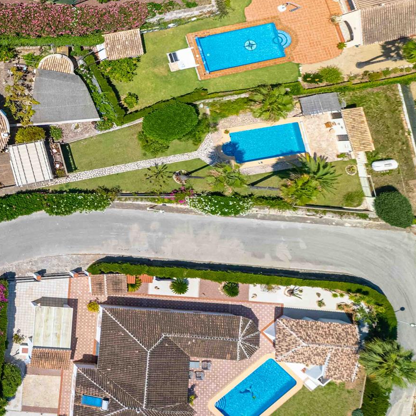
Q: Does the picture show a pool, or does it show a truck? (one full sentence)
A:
The image shows a pool.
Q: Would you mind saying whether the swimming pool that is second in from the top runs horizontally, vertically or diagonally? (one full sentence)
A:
The swimming pool that is second in from the top has been laid out horizontally relative to the frame.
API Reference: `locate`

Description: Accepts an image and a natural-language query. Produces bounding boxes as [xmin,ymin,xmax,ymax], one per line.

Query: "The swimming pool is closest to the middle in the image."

[223,123,307,163]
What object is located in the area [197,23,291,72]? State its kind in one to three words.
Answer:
swimming pool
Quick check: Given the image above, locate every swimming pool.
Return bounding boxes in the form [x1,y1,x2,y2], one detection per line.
[215,359,297,416]
[197,23,291,72]
[223,123,307,163]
